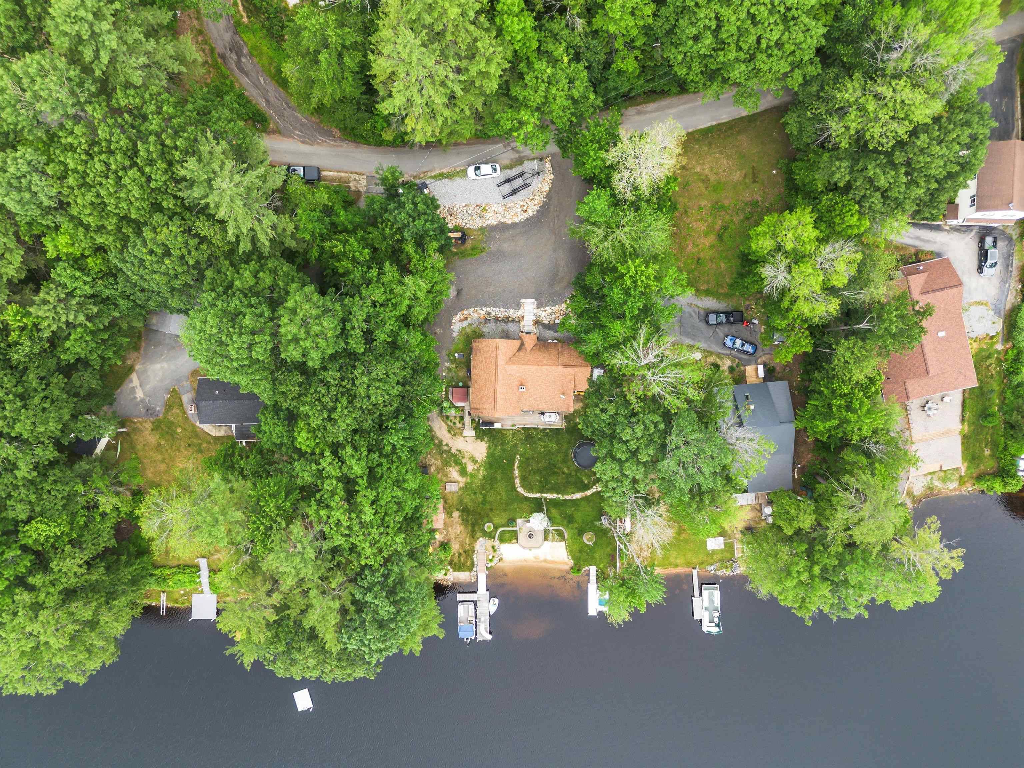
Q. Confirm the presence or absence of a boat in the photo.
Yes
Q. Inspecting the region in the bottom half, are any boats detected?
Yes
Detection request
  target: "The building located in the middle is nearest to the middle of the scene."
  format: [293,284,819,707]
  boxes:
[470,332,590,416]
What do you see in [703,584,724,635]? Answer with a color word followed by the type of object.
white boat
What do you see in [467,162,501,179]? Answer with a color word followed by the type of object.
white car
